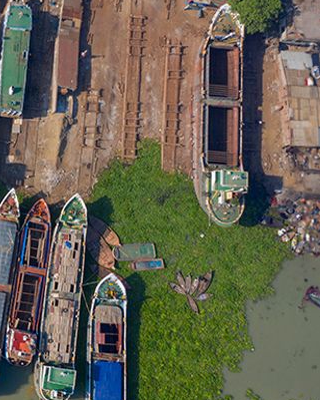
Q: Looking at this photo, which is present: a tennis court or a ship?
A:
ship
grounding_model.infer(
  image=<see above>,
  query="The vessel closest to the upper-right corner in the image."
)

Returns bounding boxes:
[197,2,249,224]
